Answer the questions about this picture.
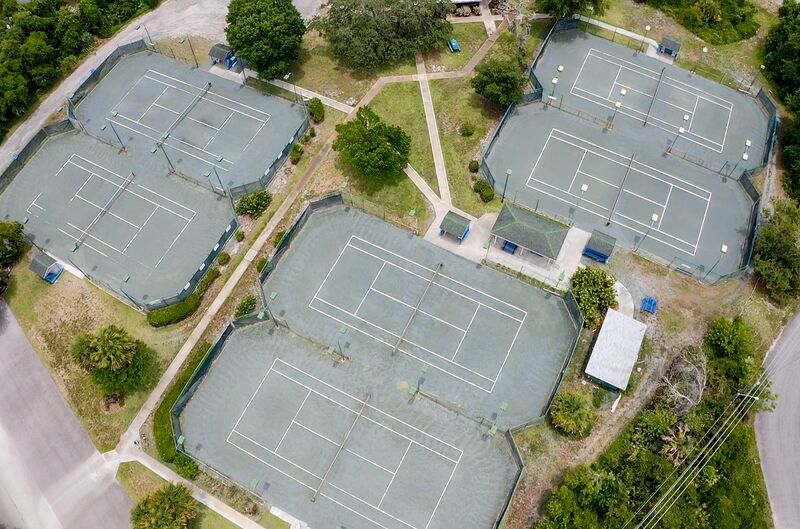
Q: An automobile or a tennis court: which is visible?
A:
tennis court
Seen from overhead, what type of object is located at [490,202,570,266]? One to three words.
building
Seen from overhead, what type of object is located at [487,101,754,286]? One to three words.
tennis court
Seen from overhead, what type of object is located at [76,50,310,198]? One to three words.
tennis court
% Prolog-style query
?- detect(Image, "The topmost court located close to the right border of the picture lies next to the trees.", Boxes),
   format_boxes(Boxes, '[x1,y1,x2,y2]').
[531,29,768,177]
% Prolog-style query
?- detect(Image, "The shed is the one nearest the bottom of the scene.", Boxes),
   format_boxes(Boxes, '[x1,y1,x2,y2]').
[580,309,648,394]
